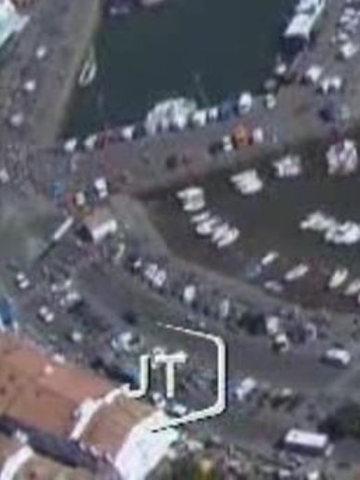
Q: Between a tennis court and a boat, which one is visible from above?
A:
boat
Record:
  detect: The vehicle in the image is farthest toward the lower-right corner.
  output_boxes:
[304,465,321,480]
